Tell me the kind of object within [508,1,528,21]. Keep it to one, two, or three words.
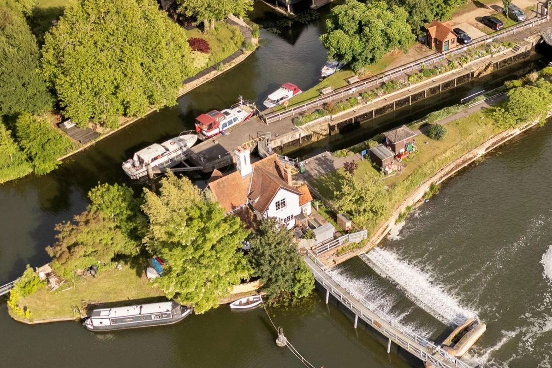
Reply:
vehicle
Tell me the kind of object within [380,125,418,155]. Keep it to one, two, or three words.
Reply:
shed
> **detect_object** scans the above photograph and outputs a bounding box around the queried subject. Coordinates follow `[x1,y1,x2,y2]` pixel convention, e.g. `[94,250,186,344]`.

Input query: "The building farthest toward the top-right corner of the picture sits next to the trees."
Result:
[422,19,458,57]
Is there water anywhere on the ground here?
Yes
